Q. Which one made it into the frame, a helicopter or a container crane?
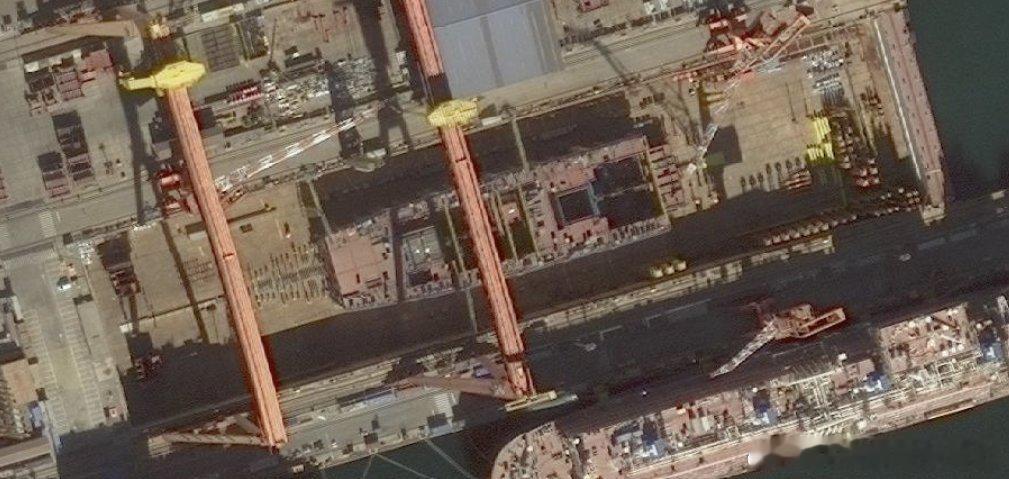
container crane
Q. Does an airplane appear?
No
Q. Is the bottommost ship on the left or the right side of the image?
right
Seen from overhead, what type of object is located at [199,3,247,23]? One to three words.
shed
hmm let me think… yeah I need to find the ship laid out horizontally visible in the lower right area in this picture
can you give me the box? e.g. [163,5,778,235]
[491,286,1009,479]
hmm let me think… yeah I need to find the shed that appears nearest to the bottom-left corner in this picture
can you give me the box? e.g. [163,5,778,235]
[0,363,40,404]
